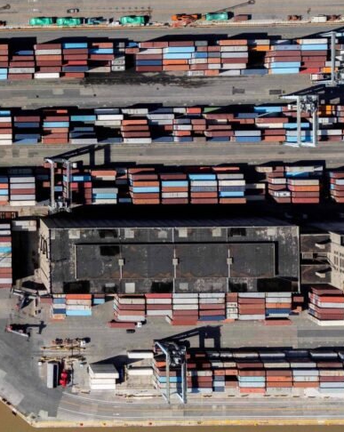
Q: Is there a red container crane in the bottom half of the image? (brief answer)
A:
No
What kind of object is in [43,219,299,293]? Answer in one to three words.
building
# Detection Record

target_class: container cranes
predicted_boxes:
[274,95,319,146]
[306,33,344,86]
[40,156,72,210]
[149,341,188,405]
